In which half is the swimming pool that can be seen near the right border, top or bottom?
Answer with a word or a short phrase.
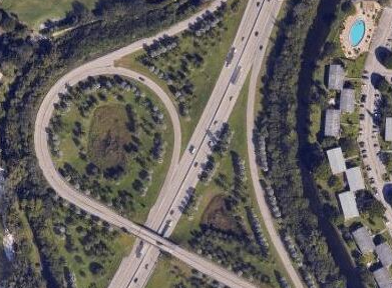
top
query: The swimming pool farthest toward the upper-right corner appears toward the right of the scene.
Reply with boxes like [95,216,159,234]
[340,0,381,60]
